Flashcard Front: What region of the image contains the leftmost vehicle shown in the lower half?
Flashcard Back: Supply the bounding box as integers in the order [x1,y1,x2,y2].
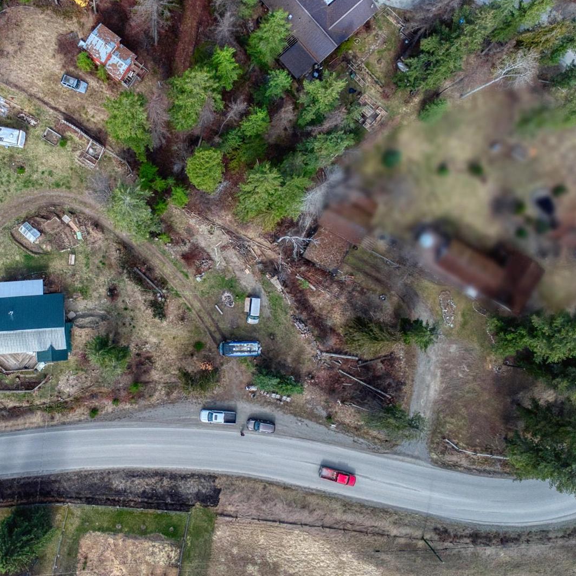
[198,408,236,425]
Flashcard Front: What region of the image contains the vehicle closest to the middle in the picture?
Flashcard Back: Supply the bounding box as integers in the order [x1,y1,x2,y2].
[245,295,260,324]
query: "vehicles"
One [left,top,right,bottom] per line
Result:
[317,465,355,486]
[0,127,27,150]
[245,295,260,324]
[245,418,275,433]
[60,75,88,94]
[198,408,236,425]
[218,339,262,357]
